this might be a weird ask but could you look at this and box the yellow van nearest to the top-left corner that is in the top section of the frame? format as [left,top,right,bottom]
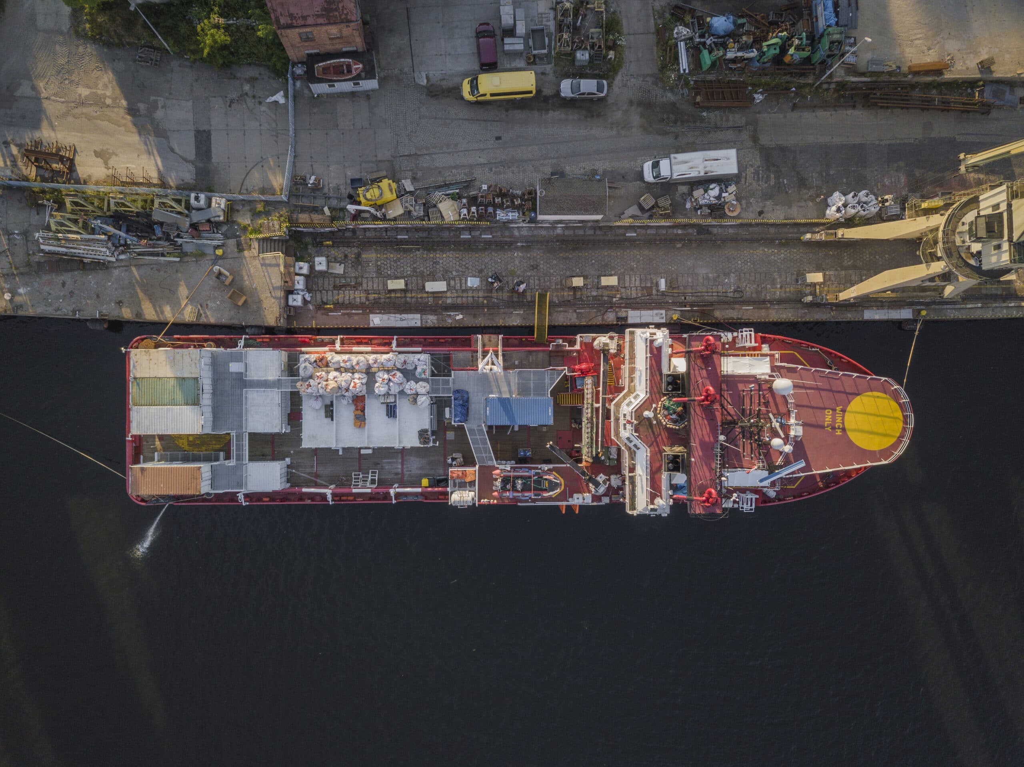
[463,70,535,102]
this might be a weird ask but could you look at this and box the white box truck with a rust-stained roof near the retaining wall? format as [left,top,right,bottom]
[642,145,743,183]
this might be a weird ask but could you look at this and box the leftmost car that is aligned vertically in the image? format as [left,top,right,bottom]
[476,25,497,71]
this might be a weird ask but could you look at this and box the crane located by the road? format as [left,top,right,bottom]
[800,133,1024,304]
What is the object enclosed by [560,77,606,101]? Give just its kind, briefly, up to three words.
car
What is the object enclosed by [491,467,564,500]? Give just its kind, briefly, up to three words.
boat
